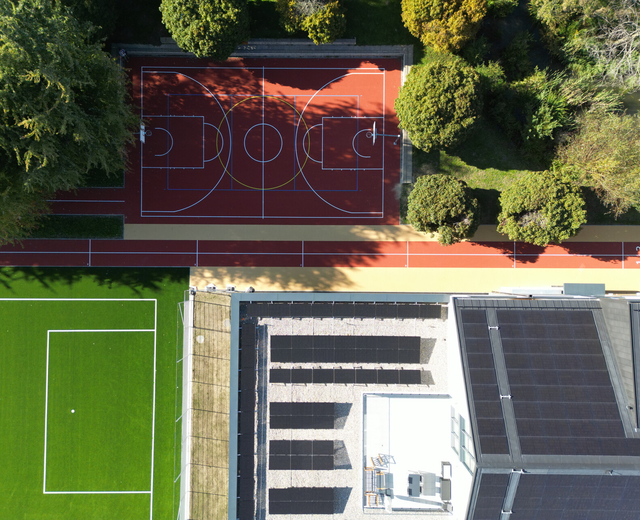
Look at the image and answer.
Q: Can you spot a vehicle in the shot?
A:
No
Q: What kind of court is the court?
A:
basketball court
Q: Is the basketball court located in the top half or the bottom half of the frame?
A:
top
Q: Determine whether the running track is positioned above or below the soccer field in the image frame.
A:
above it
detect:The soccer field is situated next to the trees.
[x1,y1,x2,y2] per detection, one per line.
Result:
[0,267,190,520]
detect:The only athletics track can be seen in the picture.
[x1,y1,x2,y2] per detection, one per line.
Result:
[0,239,640,268]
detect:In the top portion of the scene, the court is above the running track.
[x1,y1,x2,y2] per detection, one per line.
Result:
[124,58,401,224]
